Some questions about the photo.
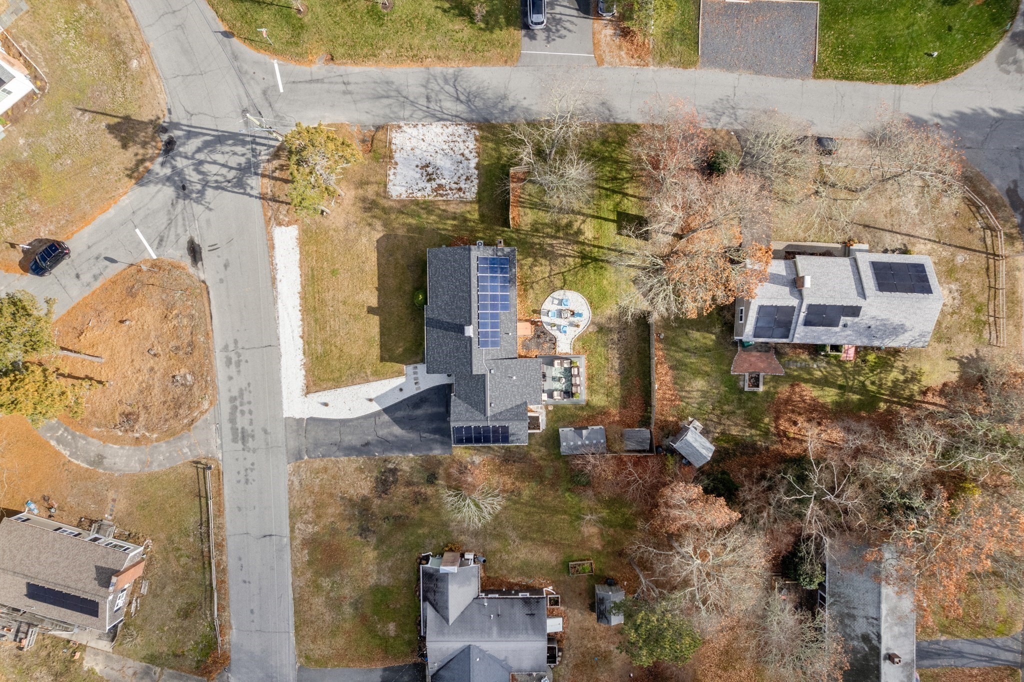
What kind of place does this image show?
residential area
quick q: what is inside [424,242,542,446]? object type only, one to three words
house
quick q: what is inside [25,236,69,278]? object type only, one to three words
car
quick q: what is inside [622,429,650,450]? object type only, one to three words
shed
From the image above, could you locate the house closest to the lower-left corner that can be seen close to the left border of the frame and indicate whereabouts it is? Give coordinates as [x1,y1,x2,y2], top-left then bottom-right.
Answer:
[0,507,149,633]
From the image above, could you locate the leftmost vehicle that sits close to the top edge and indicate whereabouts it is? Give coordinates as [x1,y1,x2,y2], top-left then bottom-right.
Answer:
[527,0,547,29]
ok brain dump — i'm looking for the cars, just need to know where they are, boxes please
[25,236,69,278]
[527,0,547,29]
[598,0,617,13]
[816,129,840,158]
